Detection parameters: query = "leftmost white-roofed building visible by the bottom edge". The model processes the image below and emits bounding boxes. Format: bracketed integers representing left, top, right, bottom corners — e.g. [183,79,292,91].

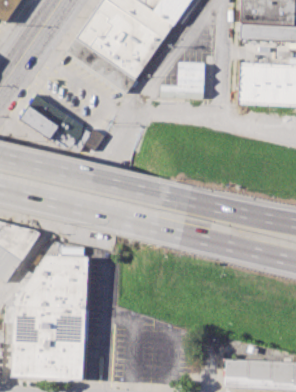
[10,256,90,381]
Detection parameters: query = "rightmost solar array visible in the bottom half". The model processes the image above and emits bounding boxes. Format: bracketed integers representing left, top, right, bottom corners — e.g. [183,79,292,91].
[56,317,82,341]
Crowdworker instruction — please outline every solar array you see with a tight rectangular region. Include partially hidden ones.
[56,317,82,341]
[16,318,38,341]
